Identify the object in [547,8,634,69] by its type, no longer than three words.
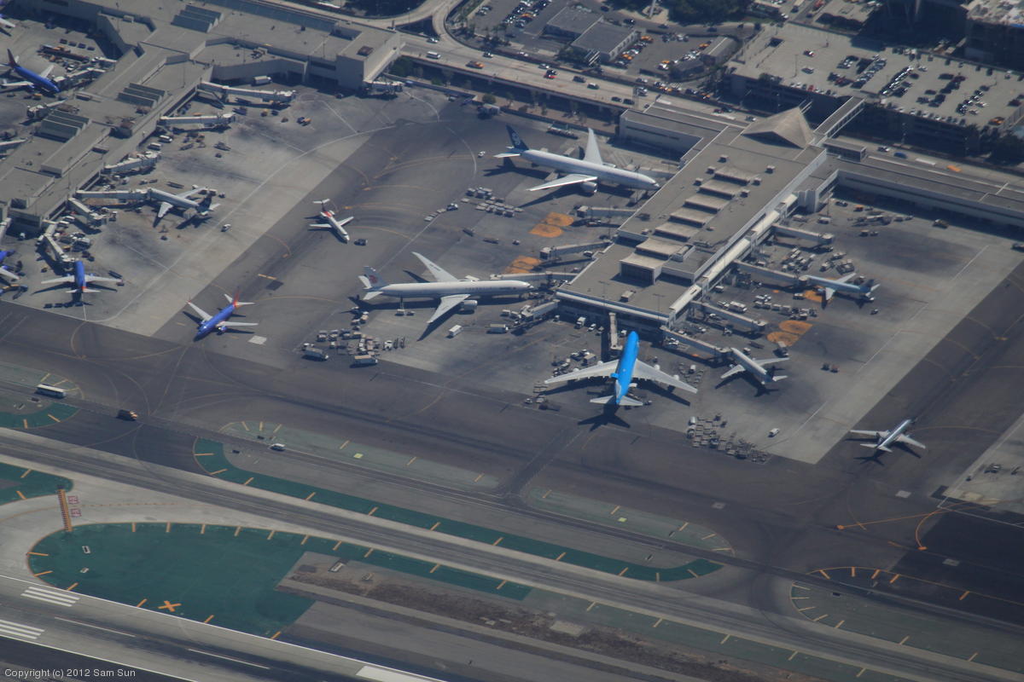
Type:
building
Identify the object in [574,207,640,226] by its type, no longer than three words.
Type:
jet bridge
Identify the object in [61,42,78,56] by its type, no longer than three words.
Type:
vehicle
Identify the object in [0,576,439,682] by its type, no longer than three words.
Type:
runway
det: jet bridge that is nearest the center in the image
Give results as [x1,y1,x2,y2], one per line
[516,299,562,328]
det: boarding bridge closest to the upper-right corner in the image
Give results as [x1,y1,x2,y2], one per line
[772,225,833,247]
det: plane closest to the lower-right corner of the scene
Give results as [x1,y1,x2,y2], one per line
[852,418,928,453]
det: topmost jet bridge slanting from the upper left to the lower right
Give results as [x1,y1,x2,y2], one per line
[66,196,104,226]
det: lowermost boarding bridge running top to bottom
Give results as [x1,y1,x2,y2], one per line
[607,312,621,361]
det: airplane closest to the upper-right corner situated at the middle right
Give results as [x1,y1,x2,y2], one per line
[807,268,881,302]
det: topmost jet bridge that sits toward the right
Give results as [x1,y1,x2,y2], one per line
[633,166,679,180]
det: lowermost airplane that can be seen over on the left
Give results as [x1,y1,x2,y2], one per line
[188,292,260,342]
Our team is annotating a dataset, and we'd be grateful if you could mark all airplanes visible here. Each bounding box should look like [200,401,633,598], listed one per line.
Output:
[152,187,217,216]
[41,260,123,293]
[491,128,659,195]
[0,48,59,94]
[309,202,352,243]
[807,268,881,302]
[360,252,535,322]
[544,333,699,410]
[188,292,260,342]
[718,348,791,384]
[852,418,928,453]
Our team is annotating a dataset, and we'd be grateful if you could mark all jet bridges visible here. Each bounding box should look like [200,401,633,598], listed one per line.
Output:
[159,113,240,131]
[607,312,621,361]
[88,55,111,68]
[40,217,72,271]
[361,81,404,100]
[103,151,165,180]
[199,80,297,107]
[0,218,13,252]
[50,67,101,92]
[633,166,679,180]
[734,261,807,289]
[538,240,614,267]
[656,324,731,361]
[495,271,581,287]
[692,302,766,333]
[66,196,104,226]
[516,299,562,328]
[24,97,67,122]
[574,207,640,226]
[73,187,155,205]
[772,225,833,247]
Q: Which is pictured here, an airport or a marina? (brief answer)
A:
airport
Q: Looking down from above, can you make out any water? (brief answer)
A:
No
